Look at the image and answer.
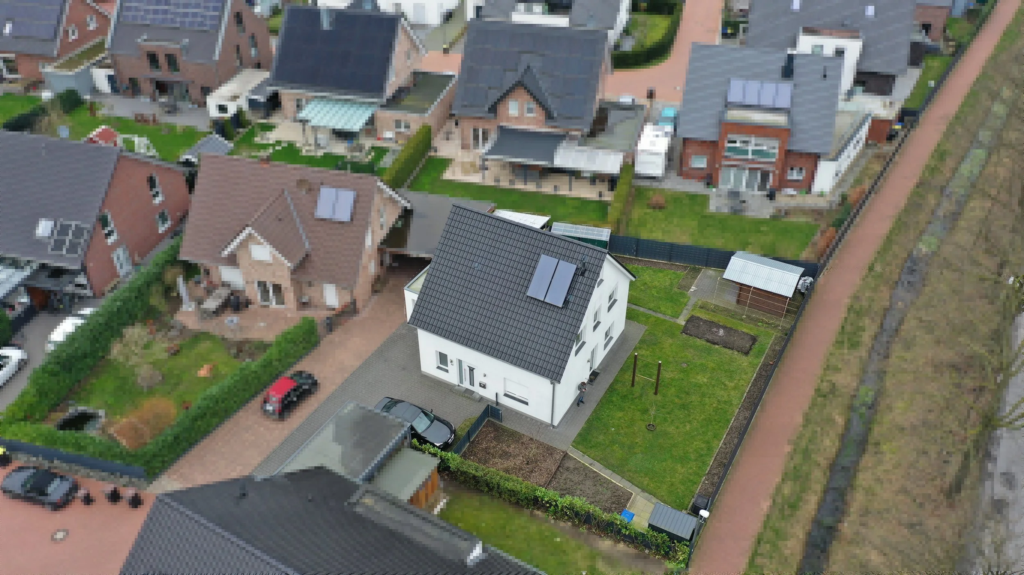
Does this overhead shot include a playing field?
No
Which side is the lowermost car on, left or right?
left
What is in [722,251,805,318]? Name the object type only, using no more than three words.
shed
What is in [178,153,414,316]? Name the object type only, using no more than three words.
house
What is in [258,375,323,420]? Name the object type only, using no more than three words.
car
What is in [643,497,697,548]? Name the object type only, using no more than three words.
shed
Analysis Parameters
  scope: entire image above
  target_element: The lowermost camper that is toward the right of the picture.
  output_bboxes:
[636,128,672,176]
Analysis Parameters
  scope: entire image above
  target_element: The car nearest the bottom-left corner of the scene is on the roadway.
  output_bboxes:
[0,468,89,515]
